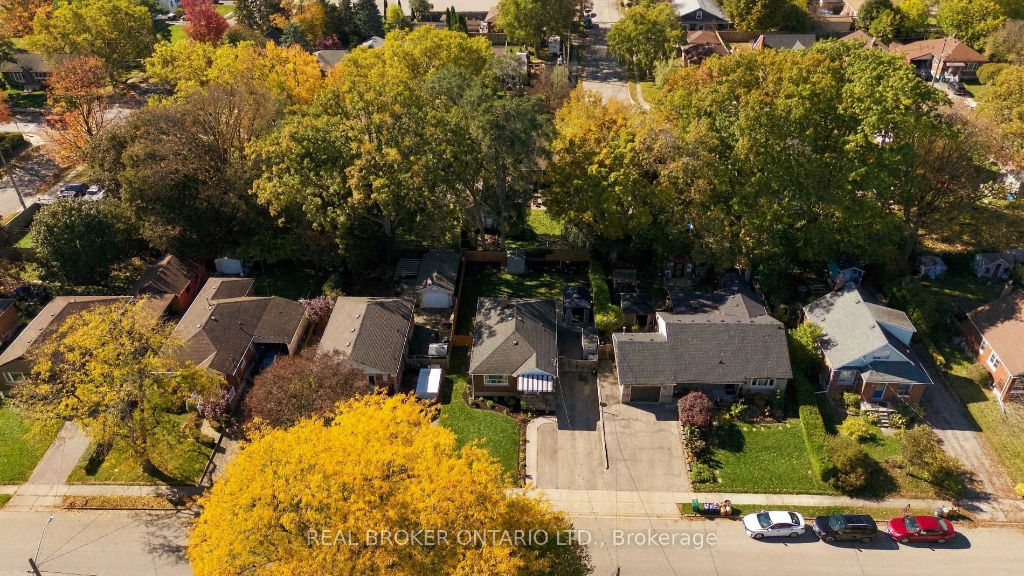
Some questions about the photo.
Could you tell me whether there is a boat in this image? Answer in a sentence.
No, I can see no boat in this picture.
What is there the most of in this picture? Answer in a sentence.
The bulk of the photo consists of trees.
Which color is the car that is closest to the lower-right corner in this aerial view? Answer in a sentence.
The car that is closest to the lower-right corner is red.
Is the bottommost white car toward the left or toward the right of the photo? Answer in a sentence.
You can find the bottommost white car on the right side of the picture.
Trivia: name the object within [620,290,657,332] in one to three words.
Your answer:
building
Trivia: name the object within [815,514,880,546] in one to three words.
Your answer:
car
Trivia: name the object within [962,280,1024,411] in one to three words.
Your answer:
house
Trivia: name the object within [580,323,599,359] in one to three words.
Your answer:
shed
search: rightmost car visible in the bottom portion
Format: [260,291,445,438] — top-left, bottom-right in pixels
[887,508,956,546]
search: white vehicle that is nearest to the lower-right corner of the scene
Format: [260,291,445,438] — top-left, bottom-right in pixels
[745,511,807,541]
